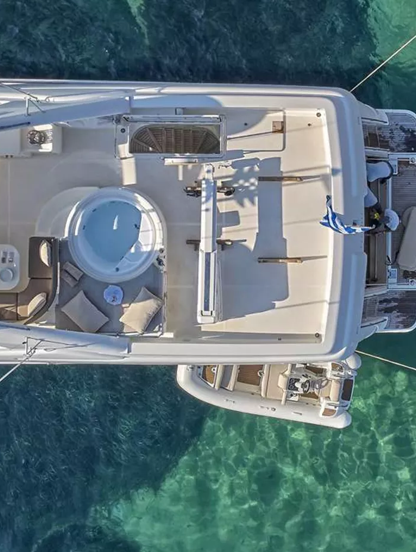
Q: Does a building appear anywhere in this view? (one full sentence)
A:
No, no building is visible in the view.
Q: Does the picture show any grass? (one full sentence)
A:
No, the picture contains no grass.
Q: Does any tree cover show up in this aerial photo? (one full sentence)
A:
No, the scene doesn't show any tree cover.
